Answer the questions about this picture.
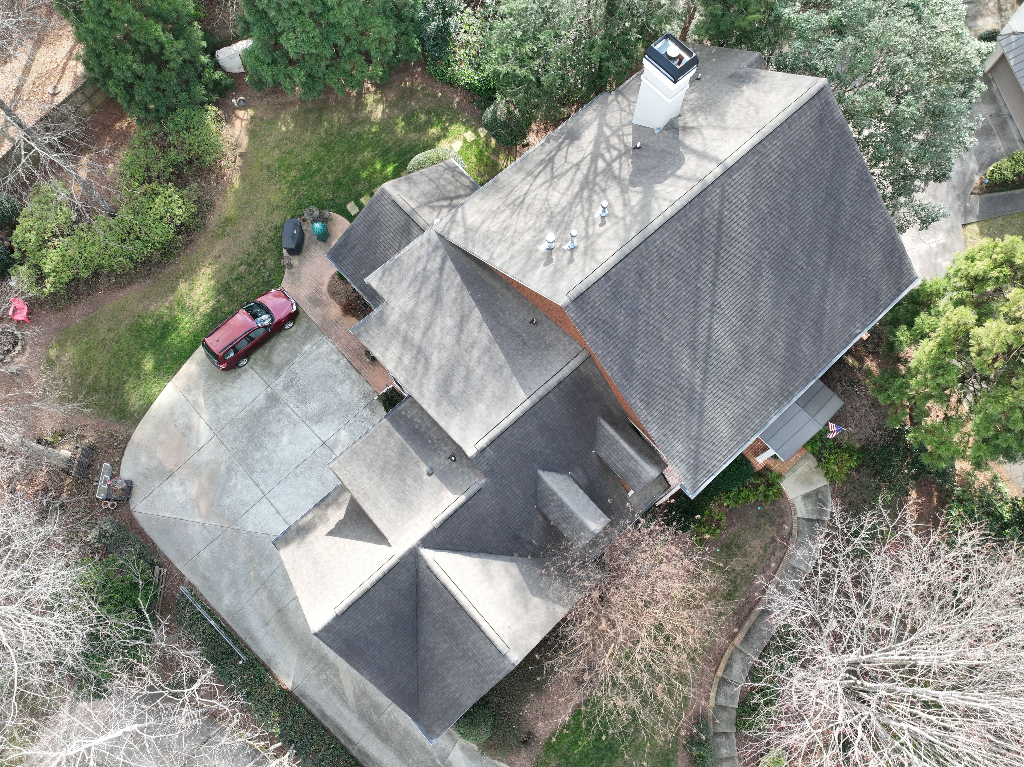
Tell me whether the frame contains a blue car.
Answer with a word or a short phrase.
No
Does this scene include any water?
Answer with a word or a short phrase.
No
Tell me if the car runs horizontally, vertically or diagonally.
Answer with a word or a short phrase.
diagonally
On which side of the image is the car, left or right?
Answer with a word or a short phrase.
left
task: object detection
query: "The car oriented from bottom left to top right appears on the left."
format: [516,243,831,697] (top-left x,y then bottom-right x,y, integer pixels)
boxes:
[199,287,301,373]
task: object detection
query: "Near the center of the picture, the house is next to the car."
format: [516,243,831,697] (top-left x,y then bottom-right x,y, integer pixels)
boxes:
[269,27,926,748]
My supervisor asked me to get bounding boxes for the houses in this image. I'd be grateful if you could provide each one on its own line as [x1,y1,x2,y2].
[985,0,1024,142]
[269,27,926,748]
